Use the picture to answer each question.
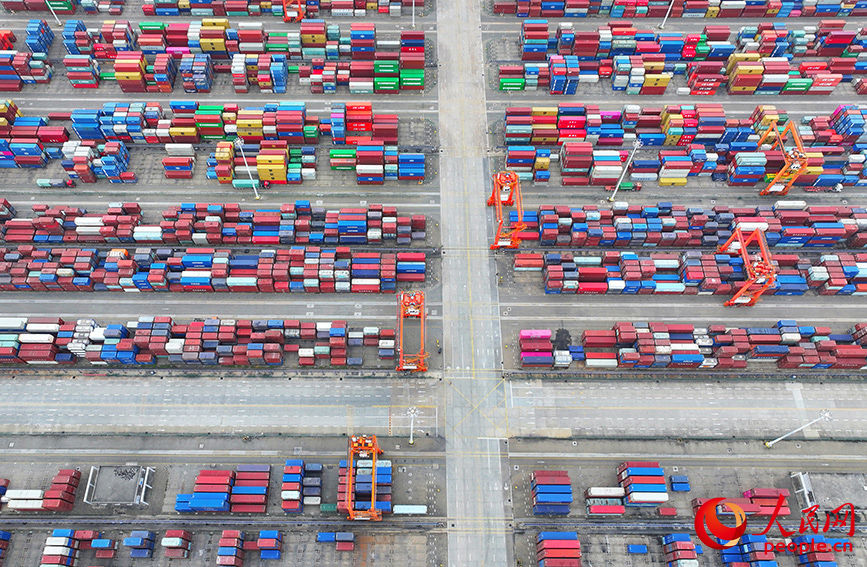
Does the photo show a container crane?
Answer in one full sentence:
Yes, the image includes a container crane.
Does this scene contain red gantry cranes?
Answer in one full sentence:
Yes, the photo shows a red gantry crane.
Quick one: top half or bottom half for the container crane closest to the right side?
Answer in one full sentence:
The top half of the photo is where the container crane closest to the right side is.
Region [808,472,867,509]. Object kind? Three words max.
shed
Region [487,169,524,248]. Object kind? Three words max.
container crane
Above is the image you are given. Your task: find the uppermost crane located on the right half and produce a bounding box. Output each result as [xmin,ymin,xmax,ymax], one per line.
[754,118,812,194]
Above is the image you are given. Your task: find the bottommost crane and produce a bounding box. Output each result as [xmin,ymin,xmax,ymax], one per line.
[340,435,385,524]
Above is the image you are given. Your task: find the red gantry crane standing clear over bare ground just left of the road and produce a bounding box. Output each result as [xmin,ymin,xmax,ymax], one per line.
[395,289,430,372]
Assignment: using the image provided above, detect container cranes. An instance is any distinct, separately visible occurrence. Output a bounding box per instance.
[713,223,780,303]
[487,169,524,248]
[283,0,308,23]
[754,118,812,194]
[395,289,430,372]
[340,435,385,524]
